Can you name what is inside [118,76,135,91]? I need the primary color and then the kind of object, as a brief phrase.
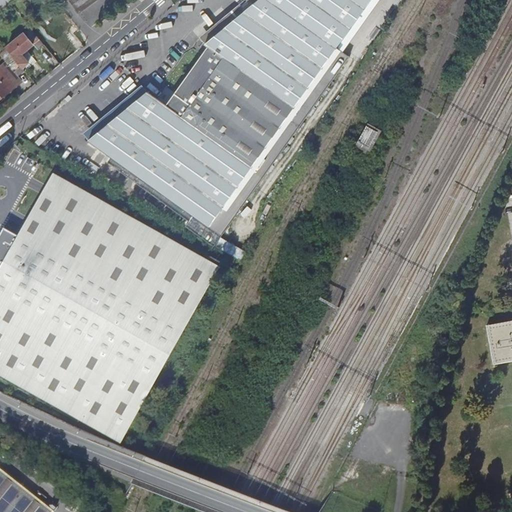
white vehicle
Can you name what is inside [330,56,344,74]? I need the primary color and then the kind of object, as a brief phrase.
white vehicle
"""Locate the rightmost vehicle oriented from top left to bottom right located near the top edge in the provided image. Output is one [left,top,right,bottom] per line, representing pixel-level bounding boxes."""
[200,10,214,26]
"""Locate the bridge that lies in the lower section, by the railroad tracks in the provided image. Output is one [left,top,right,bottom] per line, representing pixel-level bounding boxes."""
[0,394,288,512]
